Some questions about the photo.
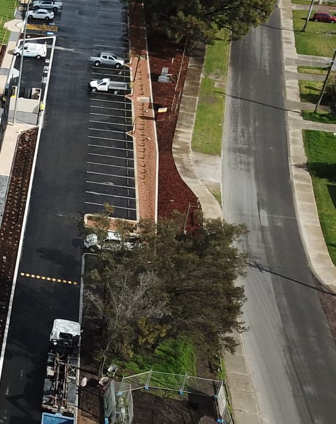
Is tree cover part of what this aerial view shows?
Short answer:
Yes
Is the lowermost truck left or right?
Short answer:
left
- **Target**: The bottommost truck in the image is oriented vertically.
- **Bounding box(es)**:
[41,325,83,417]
